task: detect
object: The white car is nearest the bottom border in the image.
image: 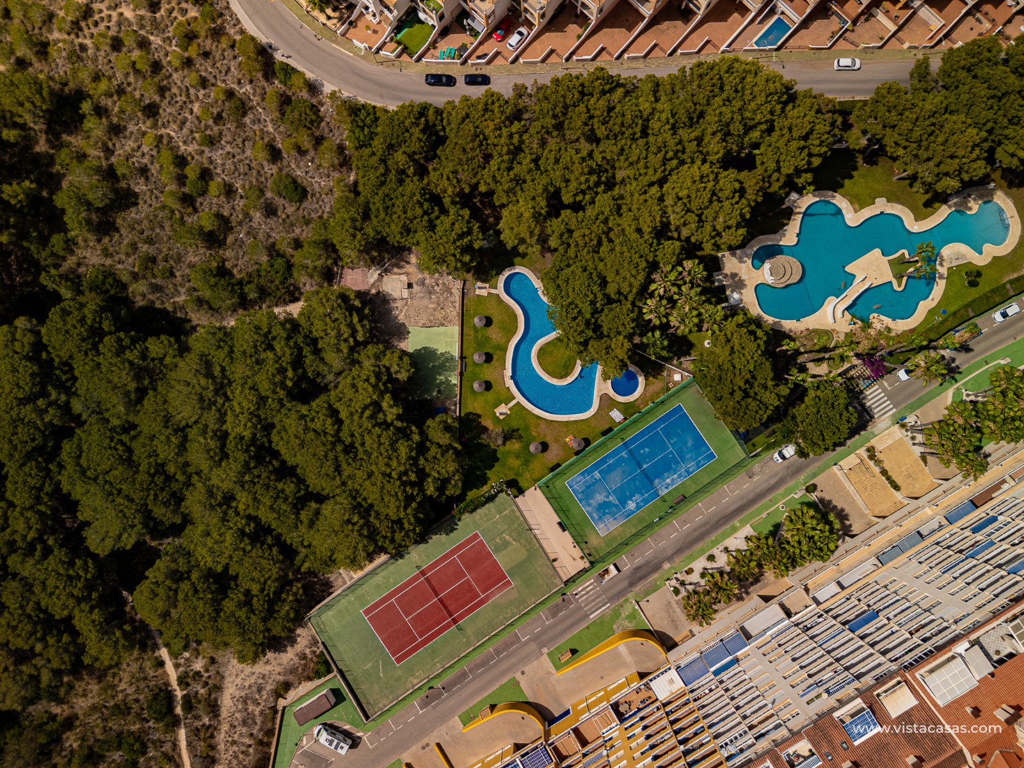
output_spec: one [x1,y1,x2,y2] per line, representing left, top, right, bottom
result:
[771,445,799,464]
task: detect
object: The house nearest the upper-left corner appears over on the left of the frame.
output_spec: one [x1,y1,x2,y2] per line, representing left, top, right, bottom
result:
[378,0,420,28]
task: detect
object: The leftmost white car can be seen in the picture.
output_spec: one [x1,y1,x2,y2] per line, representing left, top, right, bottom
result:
[506,27,528,53]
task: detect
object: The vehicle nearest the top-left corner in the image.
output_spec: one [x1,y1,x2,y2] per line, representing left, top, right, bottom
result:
[425,73,455,88]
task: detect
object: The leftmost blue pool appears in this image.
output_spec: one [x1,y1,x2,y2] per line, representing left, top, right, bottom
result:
[498,266,608,421]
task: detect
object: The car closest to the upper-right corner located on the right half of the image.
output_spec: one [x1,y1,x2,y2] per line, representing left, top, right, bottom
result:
[832,57,859,72]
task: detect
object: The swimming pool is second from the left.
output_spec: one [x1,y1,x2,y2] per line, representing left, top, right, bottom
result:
[605,363,645,403]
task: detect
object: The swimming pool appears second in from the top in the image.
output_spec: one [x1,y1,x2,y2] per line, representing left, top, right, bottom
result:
[714,189,1021,333]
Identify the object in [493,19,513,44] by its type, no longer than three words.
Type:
car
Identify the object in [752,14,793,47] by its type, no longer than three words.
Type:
swimming pool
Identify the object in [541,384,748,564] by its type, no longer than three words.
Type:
tennis court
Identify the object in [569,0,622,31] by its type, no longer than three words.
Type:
house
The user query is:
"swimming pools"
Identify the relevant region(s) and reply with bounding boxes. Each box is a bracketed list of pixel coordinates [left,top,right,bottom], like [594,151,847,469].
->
[605,363,645,403]
[498,266,608,421]
[714,189,1021,333]
[752,14,793,47]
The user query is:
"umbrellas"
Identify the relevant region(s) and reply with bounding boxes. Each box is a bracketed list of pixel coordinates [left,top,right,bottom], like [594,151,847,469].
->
[572,437,585,450]
[473,315,485,327]
[473,379,485,392]
[530,442,542,454]
[473,351,485,363]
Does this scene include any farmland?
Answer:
No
